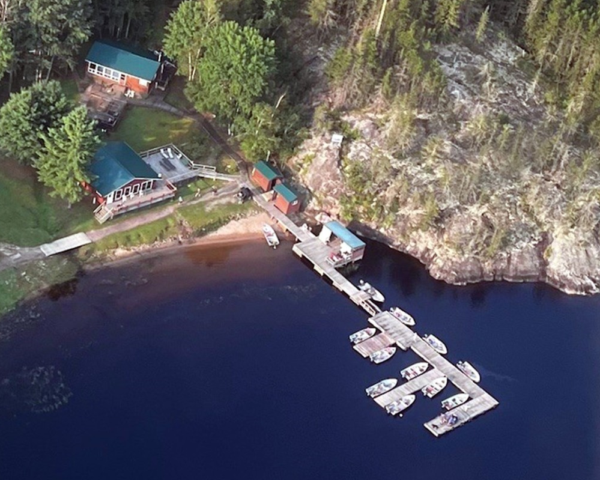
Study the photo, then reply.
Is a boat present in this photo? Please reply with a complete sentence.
Yes, I can see a boat in this picture.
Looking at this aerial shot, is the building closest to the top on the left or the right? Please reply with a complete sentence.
The building closest to the top sits on the left side.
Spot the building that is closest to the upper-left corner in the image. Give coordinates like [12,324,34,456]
[85,39,177,99]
